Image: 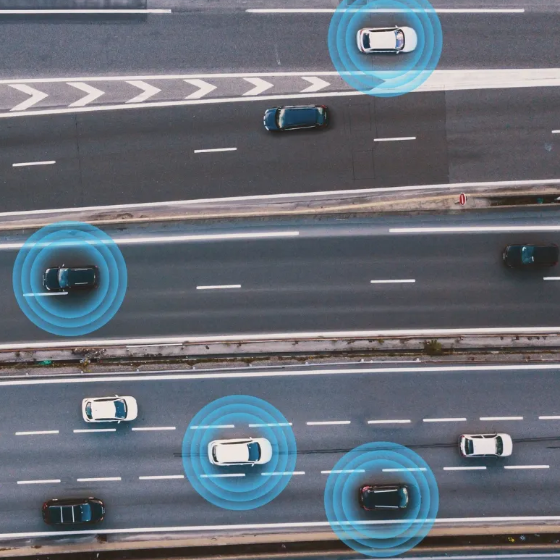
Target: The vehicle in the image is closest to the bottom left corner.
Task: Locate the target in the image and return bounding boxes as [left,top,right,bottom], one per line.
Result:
[42,495,104,527]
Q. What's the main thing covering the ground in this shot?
paved ground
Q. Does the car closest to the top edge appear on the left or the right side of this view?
right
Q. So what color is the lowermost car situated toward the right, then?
black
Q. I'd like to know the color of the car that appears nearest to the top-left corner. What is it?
black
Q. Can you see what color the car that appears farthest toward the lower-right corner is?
white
